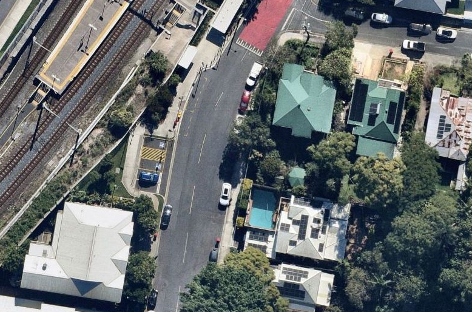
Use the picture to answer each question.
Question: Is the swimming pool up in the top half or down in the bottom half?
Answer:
bottom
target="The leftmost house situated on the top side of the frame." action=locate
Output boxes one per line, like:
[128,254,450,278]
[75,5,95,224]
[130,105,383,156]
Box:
[273,61,337,139]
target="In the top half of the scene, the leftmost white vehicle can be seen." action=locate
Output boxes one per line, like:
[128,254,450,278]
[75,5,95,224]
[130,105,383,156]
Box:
[246,59,265,87]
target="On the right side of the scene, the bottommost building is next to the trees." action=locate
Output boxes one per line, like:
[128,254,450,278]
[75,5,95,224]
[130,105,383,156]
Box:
[278,262,336,312]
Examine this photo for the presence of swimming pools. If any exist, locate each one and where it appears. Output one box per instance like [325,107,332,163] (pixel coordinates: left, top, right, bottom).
[248,188,278,231]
